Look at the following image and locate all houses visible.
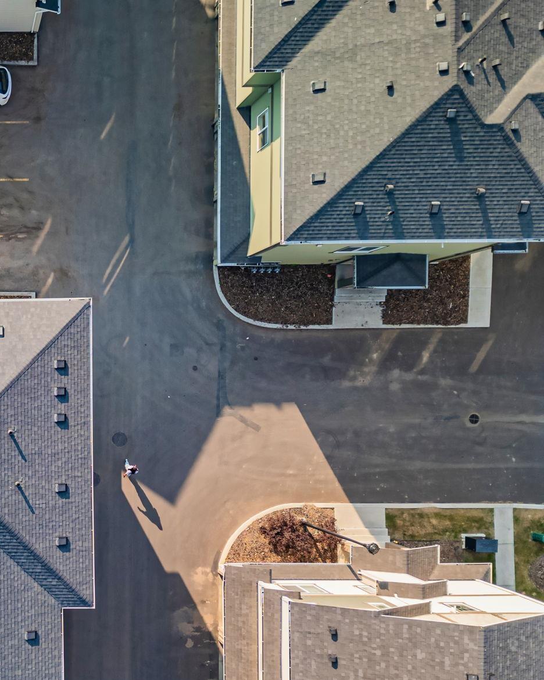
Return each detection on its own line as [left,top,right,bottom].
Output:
[0,0,62,35]
[0,295,98,680]
[207,0,544,288]
[216,537,544,680]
